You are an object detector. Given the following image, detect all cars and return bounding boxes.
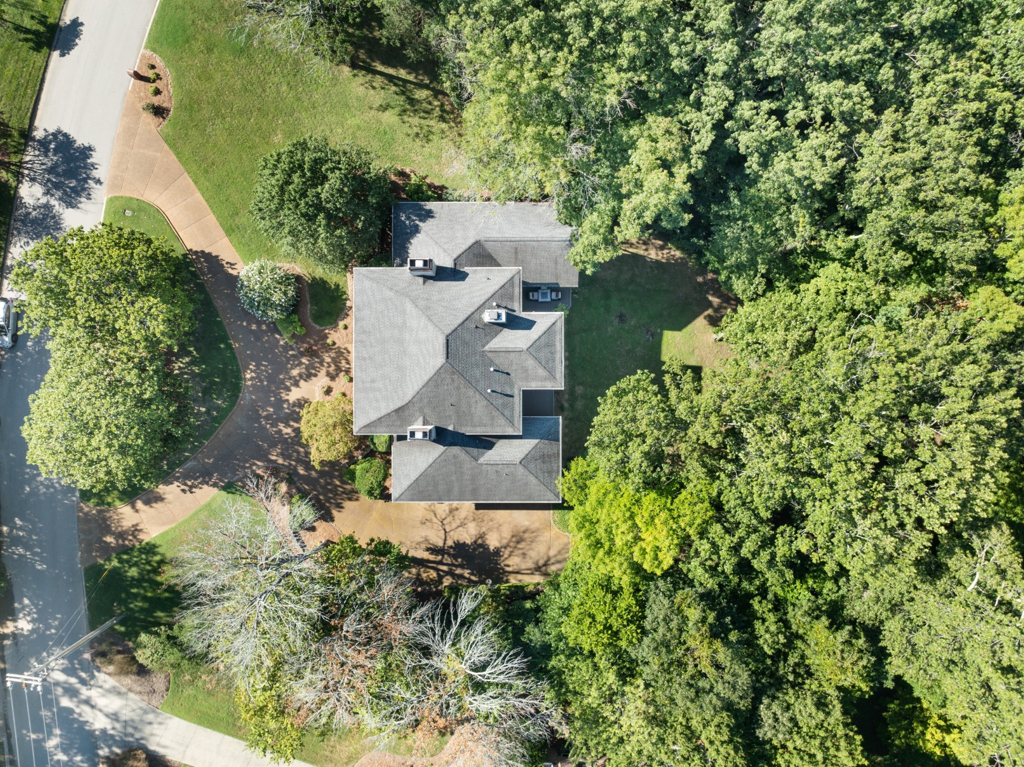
[0,297,22,350]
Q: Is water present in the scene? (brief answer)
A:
No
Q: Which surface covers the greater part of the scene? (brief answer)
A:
trees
